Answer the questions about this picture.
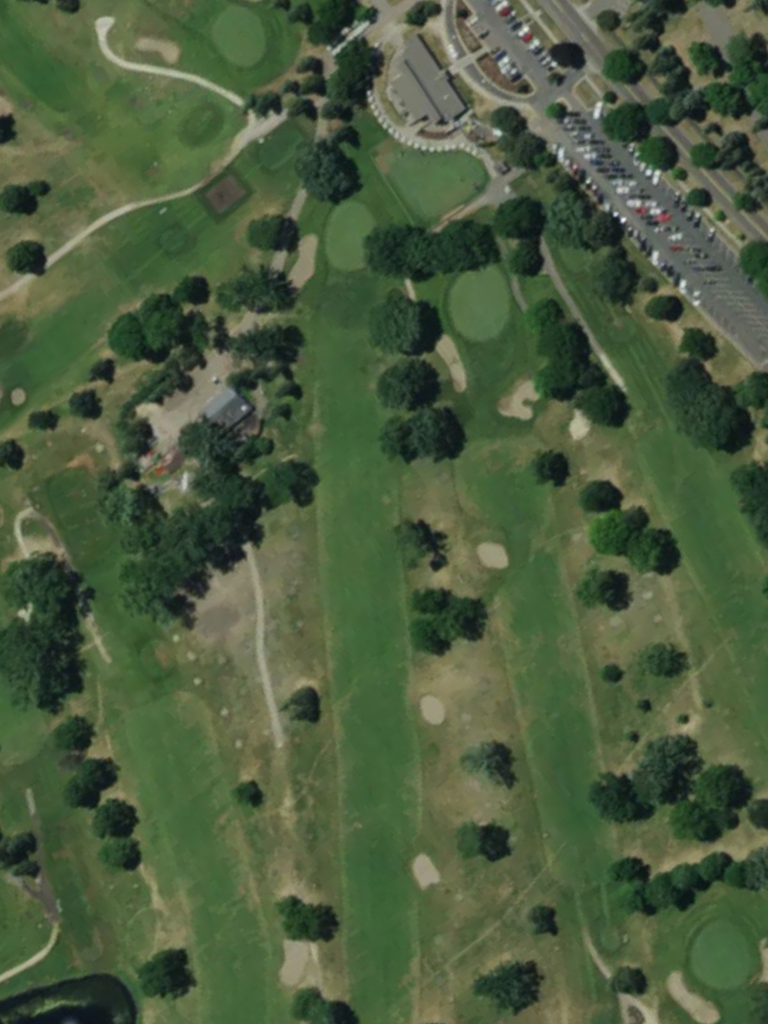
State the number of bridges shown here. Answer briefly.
none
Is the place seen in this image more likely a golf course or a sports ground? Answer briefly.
golf course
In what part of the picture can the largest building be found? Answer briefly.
top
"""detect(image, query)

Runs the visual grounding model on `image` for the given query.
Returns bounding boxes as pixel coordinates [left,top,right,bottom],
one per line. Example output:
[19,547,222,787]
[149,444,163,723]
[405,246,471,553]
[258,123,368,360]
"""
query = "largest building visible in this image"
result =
[392,34,467,126]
